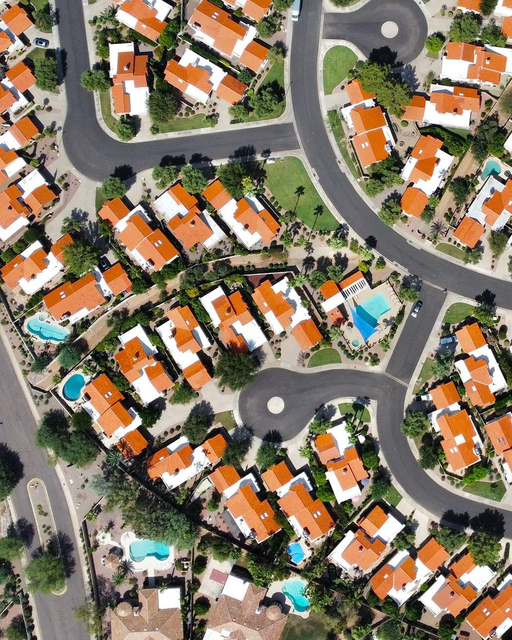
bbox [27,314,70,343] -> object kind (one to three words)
swimming pool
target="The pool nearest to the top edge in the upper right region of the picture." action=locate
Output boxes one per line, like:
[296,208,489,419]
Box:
[481,159,503,181]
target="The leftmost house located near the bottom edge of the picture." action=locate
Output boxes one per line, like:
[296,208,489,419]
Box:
[111,584,187,640]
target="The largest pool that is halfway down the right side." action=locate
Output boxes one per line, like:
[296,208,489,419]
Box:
[353,292,392,329]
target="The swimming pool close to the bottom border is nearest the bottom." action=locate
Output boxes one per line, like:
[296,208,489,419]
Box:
[281,580,311,613]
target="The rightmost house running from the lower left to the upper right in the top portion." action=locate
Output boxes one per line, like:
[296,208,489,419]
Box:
[455,175,512,246]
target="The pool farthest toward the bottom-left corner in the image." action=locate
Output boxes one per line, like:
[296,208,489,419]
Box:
[129,539,171,565]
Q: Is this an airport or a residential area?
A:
residential area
